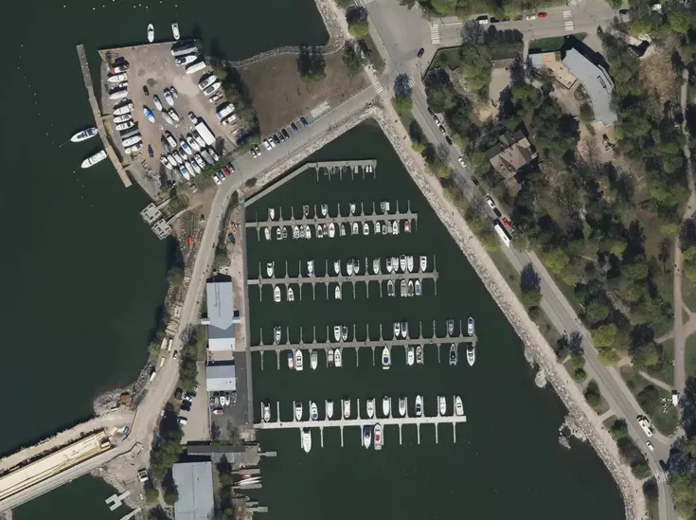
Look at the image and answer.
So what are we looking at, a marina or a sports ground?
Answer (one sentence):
What you see here is a marina.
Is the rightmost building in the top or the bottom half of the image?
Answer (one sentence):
The top half of the photo is where the rightmost building is.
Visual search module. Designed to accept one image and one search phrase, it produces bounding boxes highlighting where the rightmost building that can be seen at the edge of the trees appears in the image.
[563,48,618,124]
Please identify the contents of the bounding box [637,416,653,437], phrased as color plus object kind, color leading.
white camper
